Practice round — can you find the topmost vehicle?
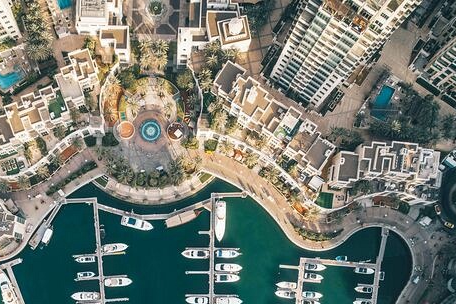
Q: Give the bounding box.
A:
[441,153,456,169]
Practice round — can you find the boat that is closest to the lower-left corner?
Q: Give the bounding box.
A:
[0,270,16,304]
